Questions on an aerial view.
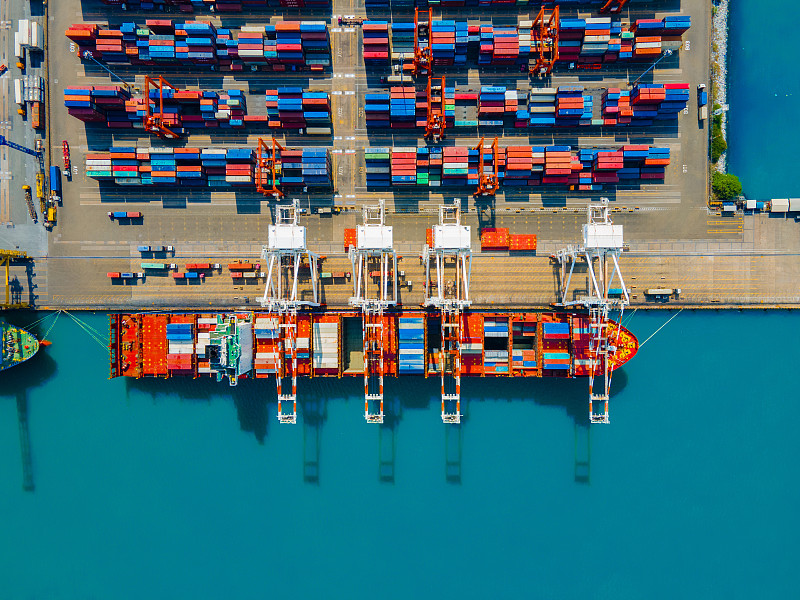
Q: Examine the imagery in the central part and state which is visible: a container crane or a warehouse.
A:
container crane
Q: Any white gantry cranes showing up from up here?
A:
Yes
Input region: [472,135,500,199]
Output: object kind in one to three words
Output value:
crane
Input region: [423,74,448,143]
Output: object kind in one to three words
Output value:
crane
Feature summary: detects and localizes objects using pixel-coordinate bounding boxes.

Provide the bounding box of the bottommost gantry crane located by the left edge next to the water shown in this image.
[0,250,38,308]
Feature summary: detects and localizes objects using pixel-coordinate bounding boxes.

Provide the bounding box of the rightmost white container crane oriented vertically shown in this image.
[550,198,633,423]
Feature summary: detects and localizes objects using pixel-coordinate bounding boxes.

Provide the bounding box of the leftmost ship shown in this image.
[0,320,52,371]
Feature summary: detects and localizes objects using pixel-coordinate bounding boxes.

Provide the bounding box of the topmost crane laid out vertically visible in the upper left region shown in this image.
[144,74,181,143]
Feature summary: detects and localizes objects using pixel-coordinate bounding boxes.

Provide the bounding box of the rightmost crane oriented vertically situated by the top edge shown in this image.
[528,4,559,77]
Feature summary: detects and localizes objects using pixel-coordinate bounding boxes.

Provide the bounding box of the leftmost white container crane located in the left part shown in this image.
[255,199,323,423]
